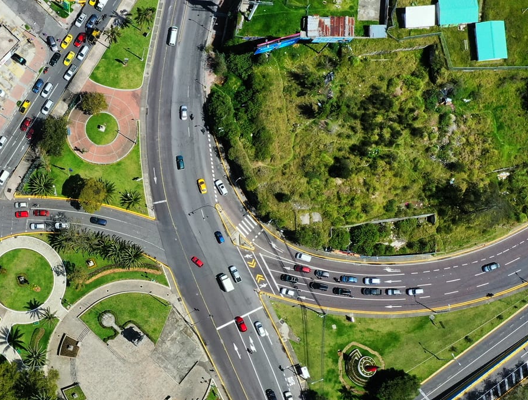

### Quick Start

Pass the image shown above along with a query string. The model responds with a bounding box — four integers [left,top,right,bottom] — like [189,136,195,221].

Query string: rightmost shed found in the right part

[468,20,507,64]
